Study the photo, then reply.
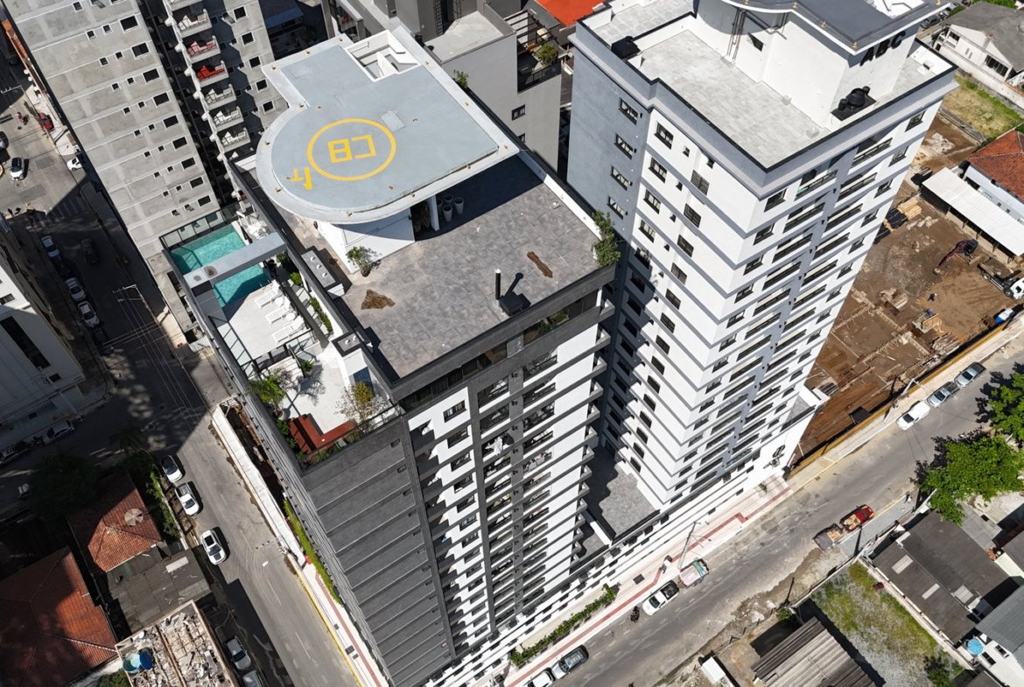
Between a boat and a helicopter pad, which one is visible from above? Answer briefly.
helicopter pad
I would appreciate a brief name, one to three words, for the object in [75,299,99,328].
car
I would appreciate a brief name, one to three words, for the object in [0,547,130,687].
house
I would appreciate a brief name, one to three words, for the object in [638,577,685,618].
truck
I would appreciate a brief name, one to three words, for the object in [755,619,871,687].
shed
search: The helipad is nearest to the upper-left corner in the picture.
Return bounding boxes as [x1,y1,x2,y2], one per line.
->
[257,26,521,225]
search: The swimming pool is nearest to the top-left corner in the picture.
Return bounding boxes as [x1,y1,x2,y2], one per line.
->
[171,222,269,304]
